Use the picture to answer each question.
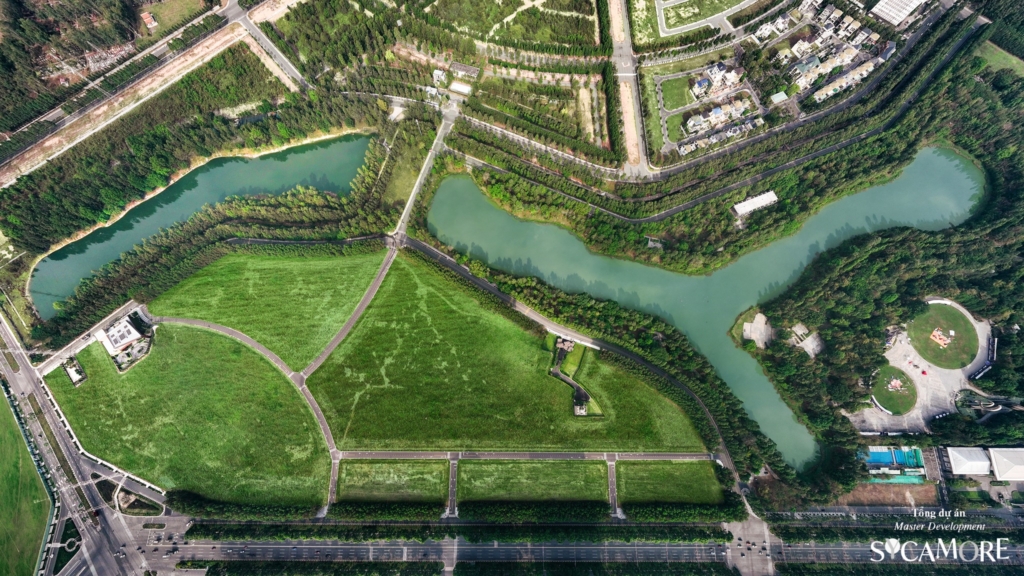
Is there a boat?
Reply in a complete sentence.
No, the picture doesn't show any boat.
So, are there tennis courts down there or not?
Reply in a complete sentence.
No, this view has no tennis court in it.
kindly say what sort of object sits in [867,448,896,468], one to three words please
swimming pool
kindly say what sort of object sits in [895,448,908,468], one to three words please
swimming pool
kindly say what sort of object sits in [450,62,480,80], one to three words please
building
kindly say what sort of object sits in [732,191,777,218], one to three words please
building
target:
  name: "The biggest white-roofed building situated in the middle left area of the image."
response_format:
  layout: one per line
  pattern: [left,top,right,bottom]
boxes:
[95,321,142,350]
